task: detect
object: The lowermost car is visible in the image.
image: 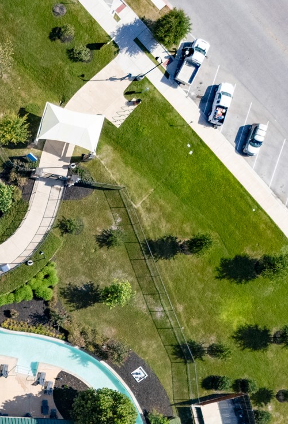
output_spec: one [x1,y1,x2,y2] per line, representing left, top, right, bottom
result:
[238,118,270,161]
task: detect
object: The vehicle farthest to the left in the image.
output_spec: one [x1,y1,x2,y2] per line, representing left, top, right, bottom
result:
[172,36,211,88]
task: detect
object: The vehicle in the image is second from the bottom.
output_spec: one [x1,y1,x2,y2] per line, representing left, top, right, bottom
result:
[205,80,236,131]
